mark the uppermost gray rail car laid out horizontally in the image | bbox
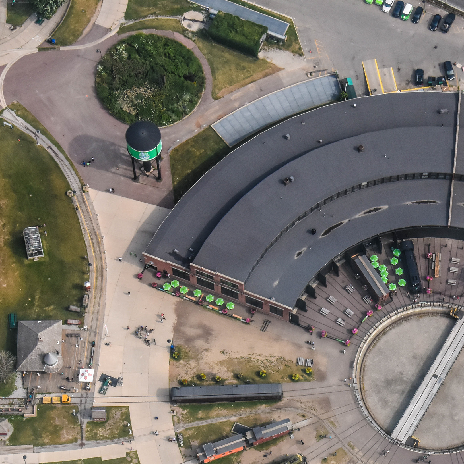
[172,384,283,405]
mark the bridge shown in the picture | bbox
[393,309,464,446]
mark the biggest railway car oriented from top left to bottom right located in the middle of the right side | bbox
[355,256,390,302]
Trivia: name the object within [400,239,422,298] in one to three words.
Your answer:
rail car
